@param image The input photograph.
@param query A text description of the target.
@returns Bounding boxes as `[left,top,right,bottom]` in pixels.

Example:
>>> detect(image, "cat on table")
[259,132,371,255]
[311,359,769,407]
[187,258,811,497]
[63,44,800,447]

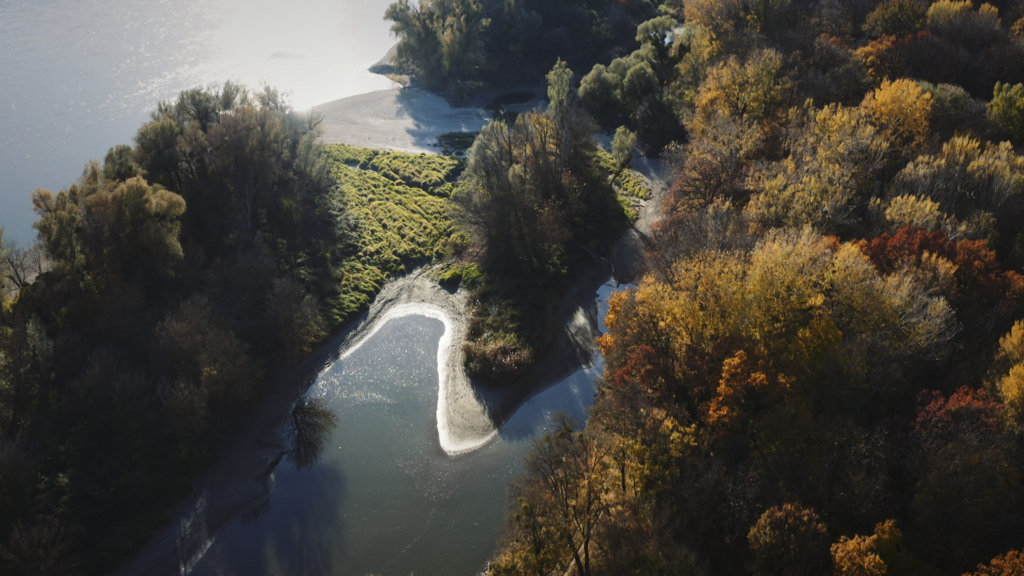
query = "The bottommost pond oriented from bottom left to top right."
[183,278,629,576]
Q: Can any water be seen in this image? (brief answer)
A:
Yes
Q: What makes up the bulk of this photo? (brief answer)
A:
trees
